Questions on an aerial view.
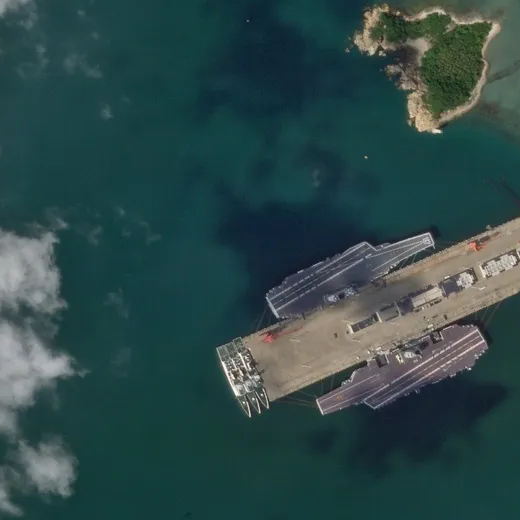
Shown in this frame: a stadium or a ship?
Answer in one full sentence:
It is a ship that can be seen here.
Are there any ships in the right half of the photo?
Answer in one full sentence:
Yes, you'll find a ship in the right half of the photo.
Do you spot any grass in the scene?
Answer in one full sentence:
No, the scene doesn't show any grass.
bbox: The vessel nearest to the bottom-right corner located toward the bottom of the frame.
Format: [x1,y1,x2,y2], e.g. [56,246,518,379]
[317,324,488,415]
